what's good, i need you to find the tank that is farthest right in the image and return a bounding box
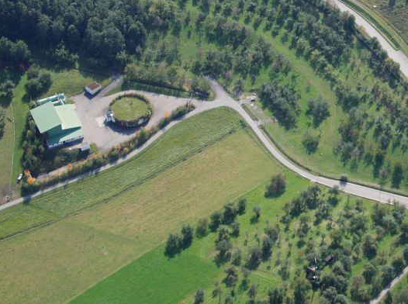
[107,92,152,125]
